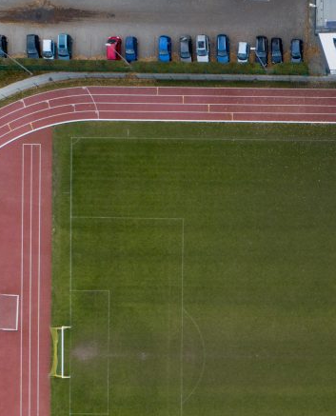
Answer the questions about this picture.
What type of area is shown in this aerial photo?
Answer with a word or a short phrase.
sports ground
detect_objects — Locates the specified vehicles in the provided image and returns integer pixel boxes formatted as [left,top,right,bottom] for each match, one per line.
[107,37,121,60]
[288,38,303,64]
[55,33,71,60]
[176,36,192,62]
[270,38,282,64]
[214,33,230,64]
[234,40,248,65]
[122,36,137,62]
[156,35,171,62]
[22,35,39,59]
[0,35,7,59]
[39,37,54,62]
[194,35,209,64]
[255,36,268,64]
